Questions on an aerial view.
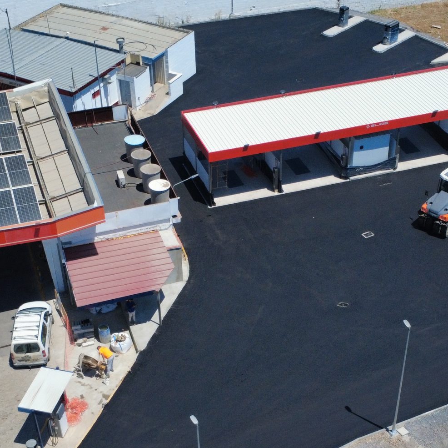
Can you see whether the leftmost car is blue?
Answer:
No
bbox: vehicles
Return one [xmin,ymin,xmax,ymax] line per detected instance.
[413,163,448,234]
[8,302,53,362]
